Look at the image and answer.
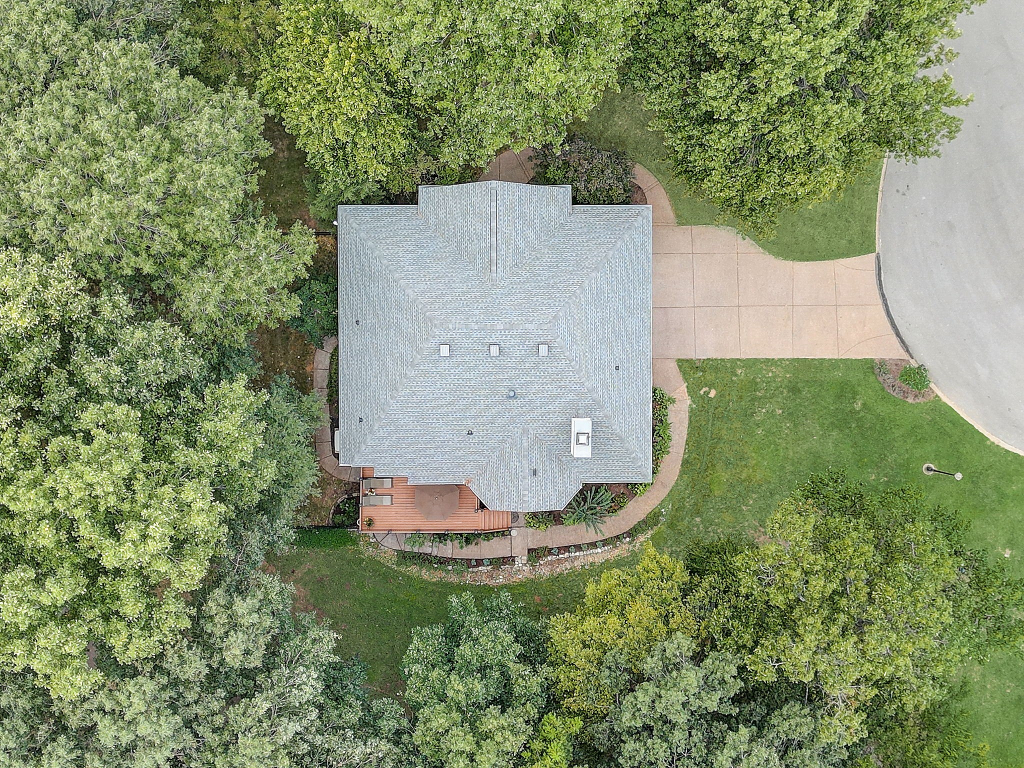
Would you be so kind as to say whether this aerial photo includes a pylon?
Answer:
No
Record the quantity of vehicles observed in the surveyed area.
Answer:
0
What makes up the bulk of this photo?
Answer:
trees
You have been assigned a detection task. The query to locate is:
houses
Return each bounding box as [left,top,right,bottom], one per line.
[337,180,654,513]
